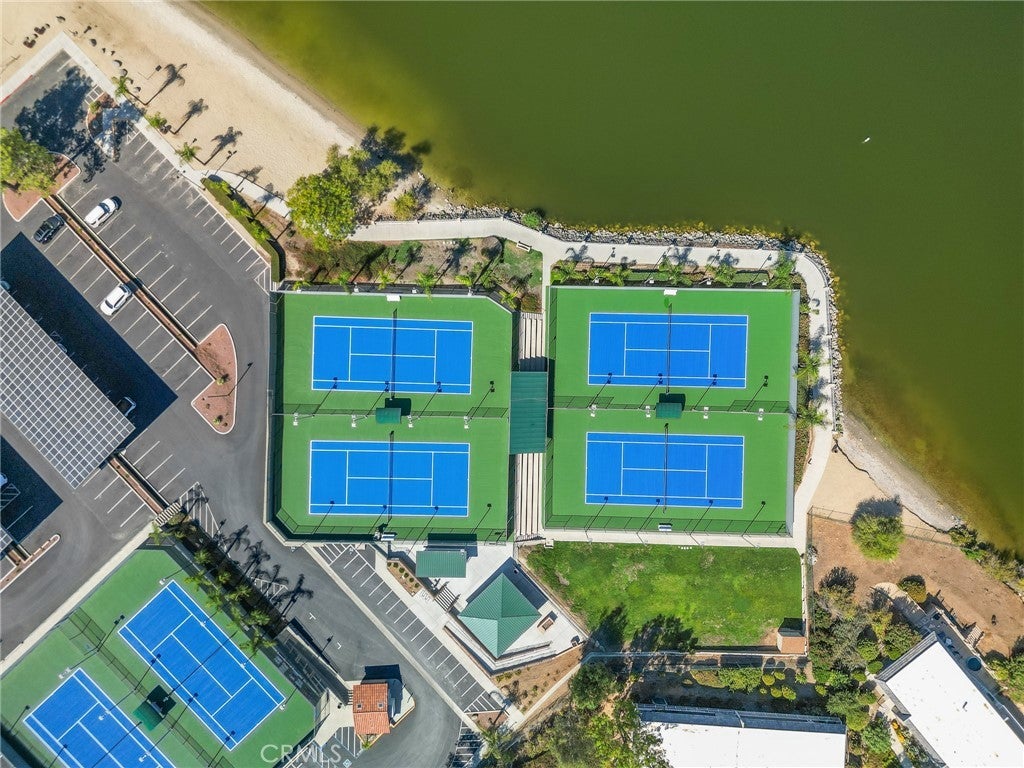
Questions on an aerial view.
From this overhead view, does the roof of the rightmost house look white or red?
white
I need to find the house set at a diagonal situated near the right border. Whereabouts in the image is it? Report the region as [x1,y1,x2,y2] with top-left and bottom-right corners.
[873,631,1024,768]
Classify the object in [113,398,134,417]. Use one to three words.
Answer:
vehicle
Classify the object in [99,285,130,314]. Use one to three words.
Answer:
car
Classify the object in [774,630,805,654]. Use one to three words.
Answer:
shed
